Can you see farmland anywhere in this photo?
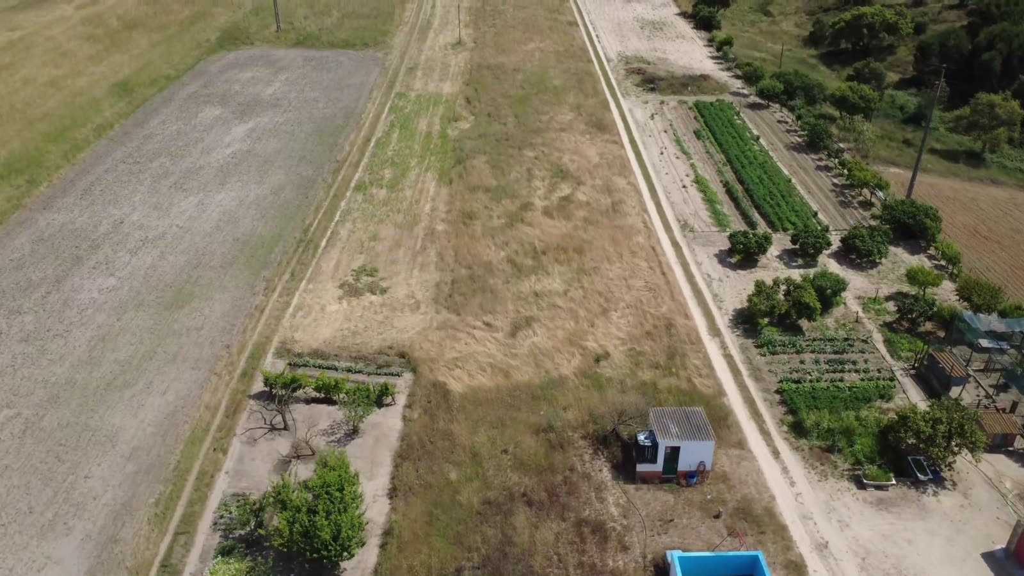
Yes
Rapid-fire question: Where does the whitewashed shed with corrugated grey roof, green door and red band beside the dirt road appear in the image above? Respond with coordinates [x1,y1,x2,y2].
[633,403,719,486]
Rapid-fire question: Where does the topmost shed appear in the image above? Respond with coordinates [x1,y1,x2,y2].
[918,341,973,396]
